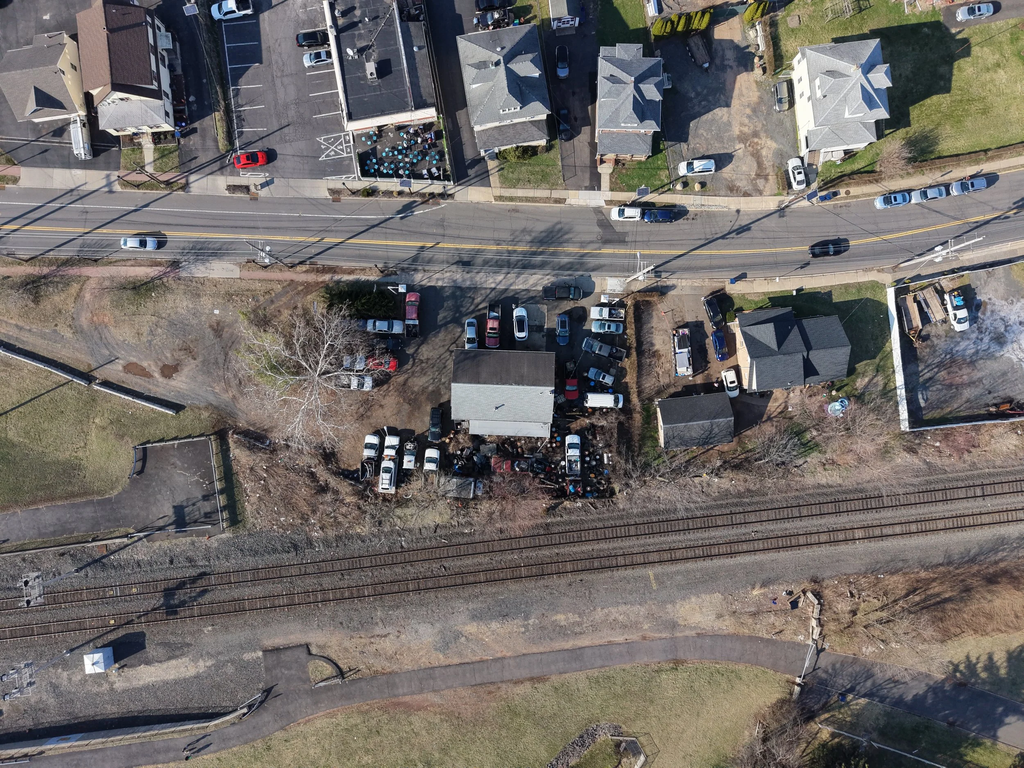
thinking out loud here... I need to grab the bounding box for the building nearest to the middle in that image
[451,349,555,438]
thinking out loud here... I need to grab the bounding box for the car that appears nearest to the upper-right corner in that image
[953,2,996,25]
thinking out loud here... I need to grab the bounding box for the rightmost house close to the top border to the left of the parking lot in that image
[75,0,182,146]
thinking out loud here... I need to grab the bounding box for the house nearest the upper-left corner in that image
[0,32,88,128]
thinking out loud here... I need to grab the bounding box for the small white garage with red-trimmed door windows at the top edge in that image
[548,0,578,35]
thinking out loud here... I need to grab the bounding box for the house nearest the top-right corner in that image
[785,38,892,174]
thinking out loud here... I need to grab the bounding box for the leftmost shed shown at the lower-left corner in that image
[84,647,114,674]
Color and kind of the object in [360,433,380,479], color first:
white vehicle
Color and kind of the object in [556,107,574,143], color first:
black car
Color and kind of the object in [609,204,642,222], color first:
white car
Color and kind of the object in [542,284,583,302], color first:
black vehicle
